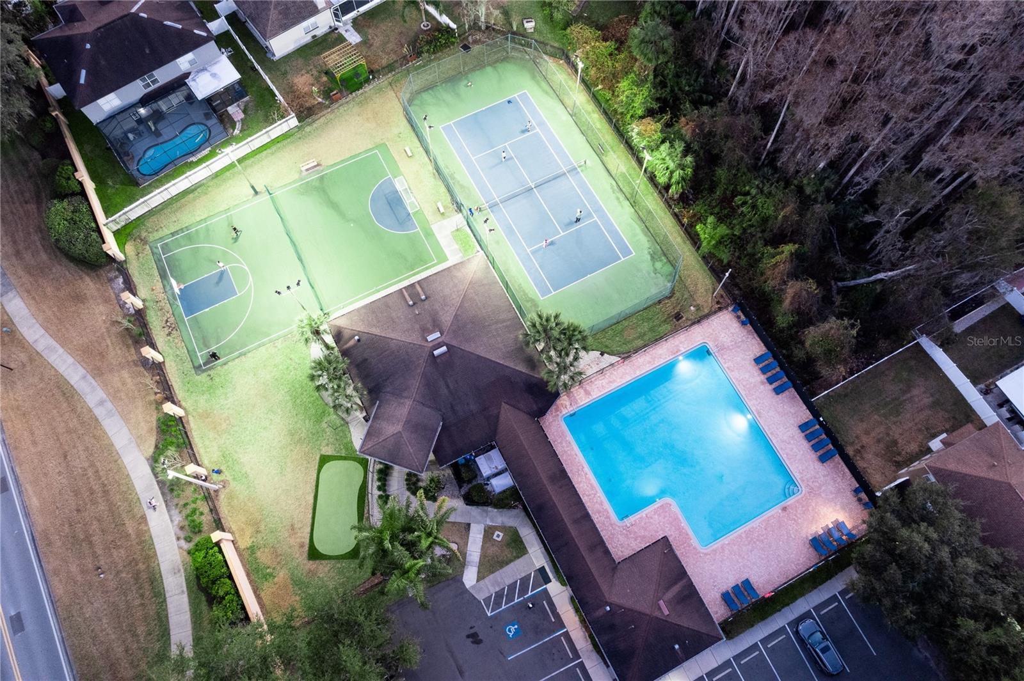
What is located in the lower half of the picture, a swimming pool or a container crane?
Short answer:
swimming pool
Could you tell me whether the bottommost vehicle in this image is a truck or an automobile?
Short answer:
automobile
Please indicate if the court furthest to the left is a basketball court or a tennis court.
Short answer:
basketball court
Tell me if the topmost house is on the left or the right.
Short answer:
left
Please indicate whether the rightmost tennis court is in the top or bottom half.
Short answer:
top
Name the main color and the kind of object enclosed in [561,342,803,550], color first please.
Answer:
blue swimming pool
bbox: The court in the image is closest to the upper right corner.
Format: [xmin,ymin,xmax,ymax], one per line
[407,56,674,337]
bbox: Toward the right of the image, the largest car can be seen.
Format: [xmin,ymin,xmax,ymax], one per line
[798,615,849,676]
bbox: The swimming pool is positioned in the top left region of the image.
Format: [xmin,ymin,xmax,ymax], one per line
[135,121,211,175]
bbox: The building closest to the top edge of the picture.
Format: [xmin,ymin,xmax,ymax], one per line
[234,0,383,61]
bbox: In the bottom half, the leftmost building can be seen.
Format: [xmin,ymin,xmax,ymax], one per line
[328,253,726,681]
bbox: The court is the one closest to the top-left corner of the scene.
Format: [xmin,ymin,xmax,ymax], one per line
[148,143,448,375]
